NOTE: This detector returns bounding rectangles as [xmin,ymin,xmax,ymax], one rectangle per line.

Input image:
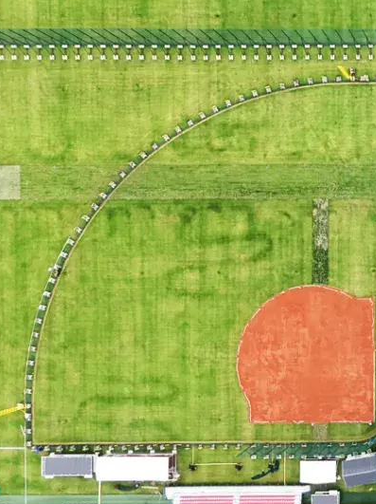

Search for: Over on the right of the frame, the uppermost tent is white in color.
[300,458,340,484]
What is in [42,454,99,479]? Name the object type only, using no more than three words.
building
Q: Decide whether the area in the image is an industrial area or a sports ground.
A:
sports ground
